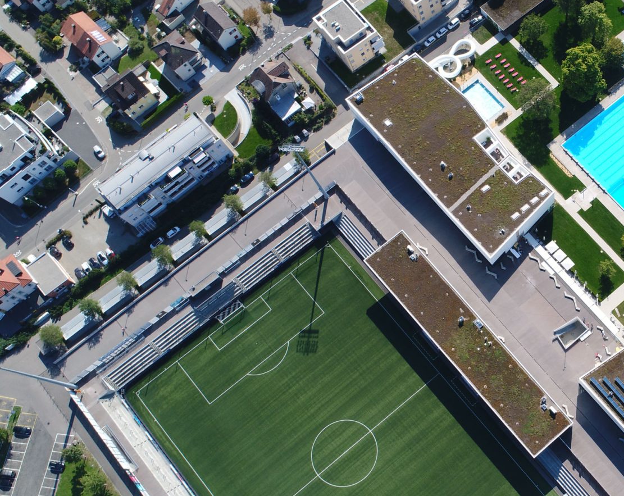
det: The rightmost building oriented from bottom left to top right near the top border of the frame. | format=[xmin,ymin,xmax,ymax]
[408,12,451,45]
